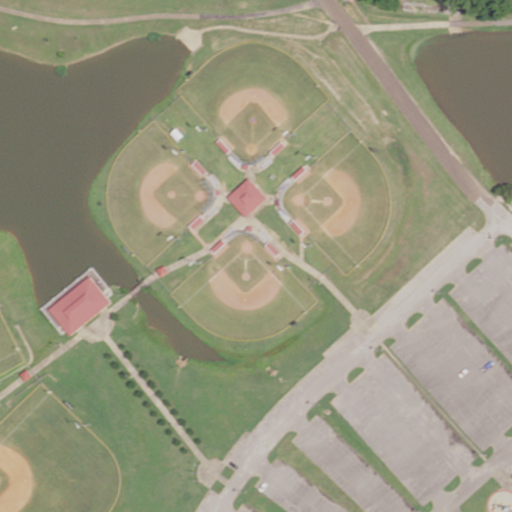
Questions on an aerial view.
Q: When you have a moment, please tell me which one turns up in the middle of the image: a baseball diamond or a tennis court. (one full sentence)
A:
What appears in the middle of the image is a baseball diamond.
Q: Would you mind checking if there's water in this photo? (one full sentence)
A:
Yes, some water is visible.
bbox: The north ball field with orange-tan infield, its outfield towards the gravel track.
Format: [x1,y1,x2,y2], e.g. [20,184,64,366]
[178,42,328,167]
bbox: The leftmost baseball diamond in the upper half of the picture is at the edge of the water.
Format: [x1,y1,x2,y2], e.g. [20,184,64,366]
[108,122,216,265]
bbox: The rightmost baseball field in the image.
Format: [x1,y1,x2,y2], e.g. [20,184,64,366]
[282,132,388,274]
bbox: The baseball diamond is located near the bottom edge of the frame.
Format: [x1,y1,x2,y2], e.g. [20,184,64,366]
[0,385,120,512]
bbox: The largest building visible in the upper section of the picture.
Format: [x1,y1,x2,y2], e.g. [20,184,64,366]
[227,178,265,218]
